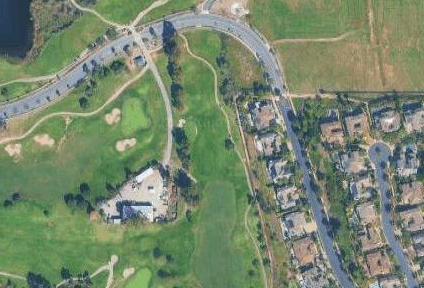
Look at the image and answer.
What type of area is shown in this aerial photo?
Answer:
golf course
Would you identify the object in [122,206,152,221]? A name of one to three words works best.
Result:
building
